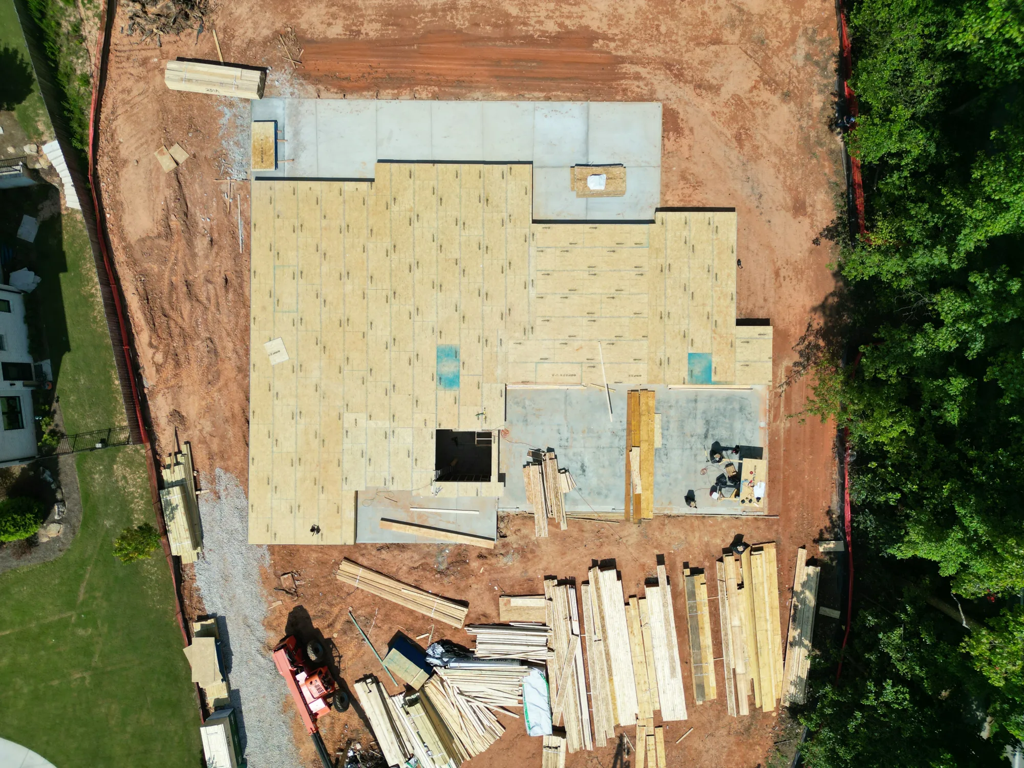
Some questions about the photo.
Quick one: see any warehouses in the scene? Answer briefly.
No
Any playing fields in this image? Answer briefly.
No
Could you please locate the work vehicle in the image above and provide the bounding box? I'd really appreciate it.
[271,631,351,768]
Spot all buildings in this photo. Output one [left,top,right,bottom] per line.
[249,97,774,544]
[0,283,38,470]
